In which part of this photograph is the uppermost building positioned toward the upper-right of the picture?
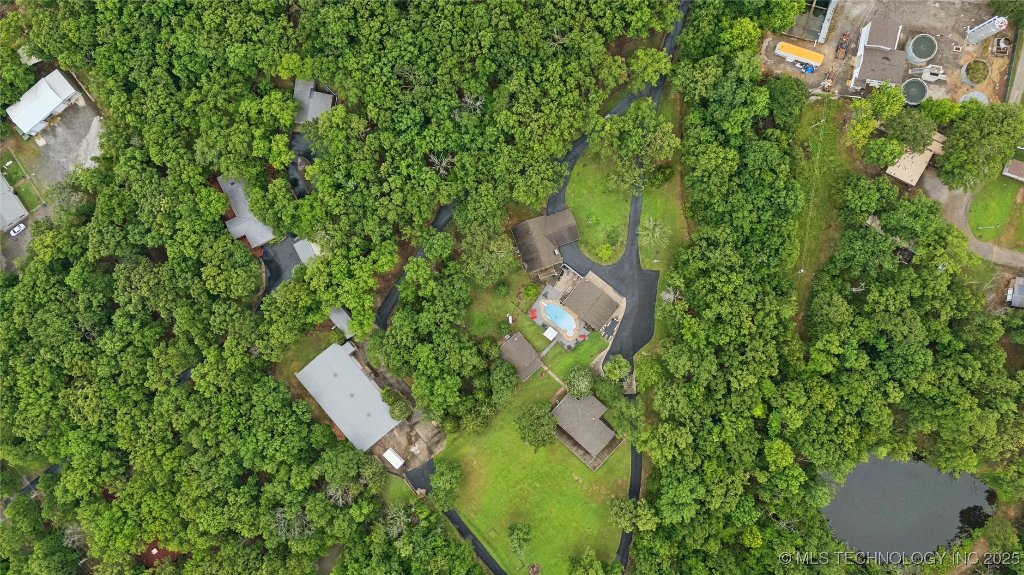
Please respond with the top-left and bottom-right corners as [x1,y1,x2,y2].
[850,18,907,90]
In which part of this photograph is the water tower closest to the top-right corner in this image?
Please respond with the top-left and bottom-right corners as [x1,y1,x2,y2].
[963,15,1008,47]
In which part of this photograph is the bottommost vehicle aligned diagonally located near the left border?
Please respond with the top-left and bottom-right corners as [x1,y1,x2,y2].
[9,223,25,235]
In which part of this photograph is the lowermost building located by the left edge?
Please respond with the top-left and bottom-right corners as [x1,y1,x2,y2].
[0,169,30,231]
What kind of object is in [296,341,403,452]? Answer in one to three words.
building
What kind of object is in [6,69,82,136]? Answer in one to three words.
barn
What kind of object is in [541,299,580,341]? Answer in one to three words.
swimming pool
